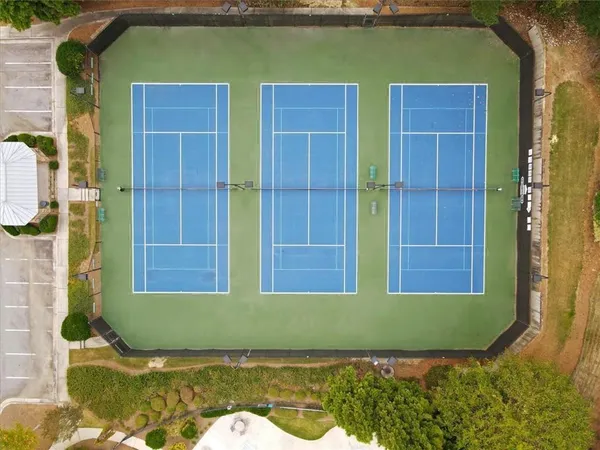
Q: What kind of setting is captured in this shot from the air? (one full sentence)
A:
The picture captures a sports ground.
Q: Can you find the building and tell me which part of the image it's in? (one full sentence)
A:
The building is located in the left region of the scene.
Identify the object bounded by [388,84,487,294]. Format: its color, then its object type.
blue tennis court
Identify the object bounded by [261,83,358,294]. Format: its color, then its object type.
blue tennis court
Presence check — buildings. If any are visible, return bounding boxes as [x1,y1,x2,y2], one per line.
[0,142,49,226]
